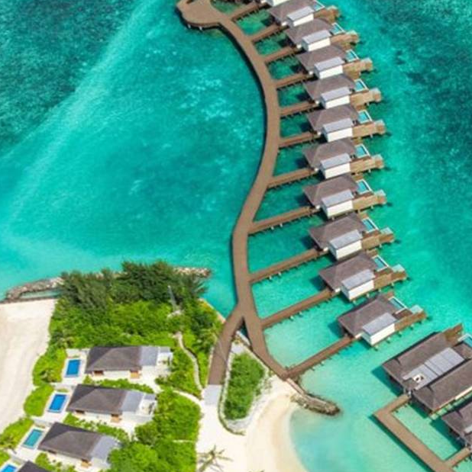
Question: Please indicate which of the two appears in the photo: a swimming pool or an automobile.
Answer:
swimming pool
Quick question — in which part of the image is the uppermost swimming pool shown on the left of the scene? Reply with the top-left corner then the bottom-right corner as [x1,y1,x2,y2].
[63,356,83,378]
